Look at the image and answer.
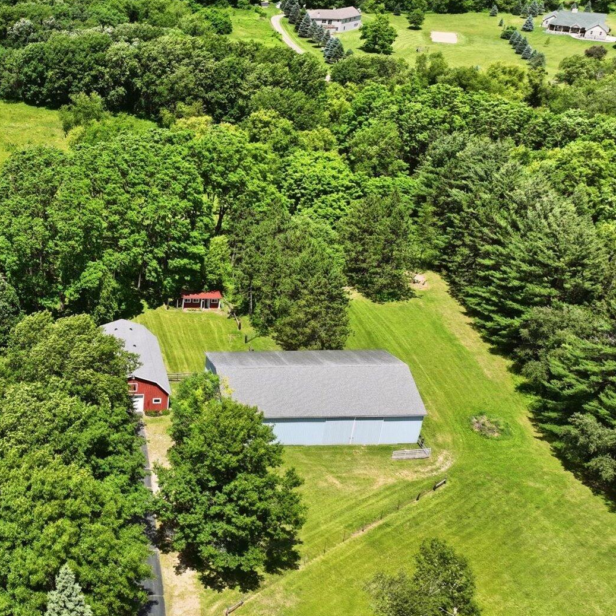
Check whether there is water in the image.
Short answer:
No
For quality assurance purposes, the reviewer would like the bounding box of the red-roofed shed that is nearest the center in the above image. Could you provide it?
[182,287,224,309]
